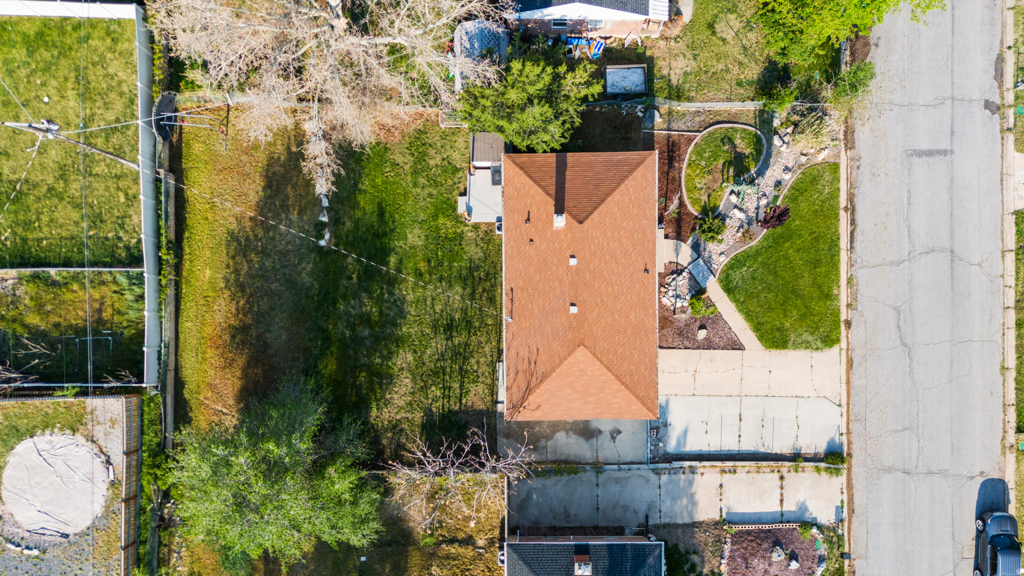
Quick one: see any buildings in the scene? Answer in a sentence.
Yes, I can see a building in this picture.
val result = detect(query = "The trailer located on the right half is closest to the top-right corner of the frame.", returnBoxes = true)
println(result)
[603,61,665,102]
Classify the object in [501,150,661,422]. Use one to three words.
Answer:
house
